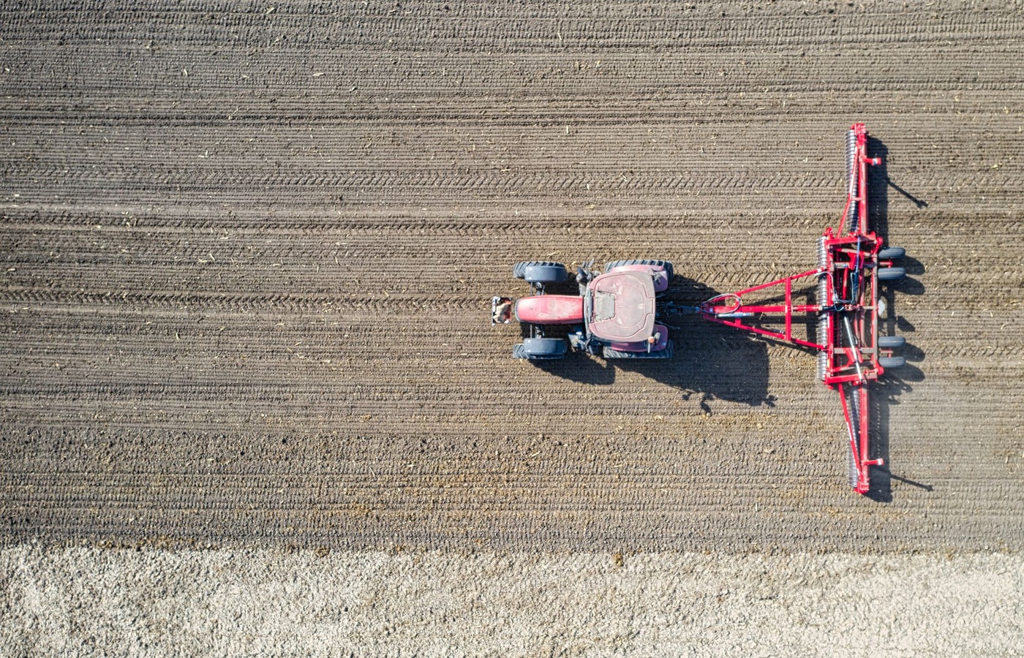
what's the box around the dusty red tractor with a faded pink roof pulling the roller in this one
[491,256,707,361]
